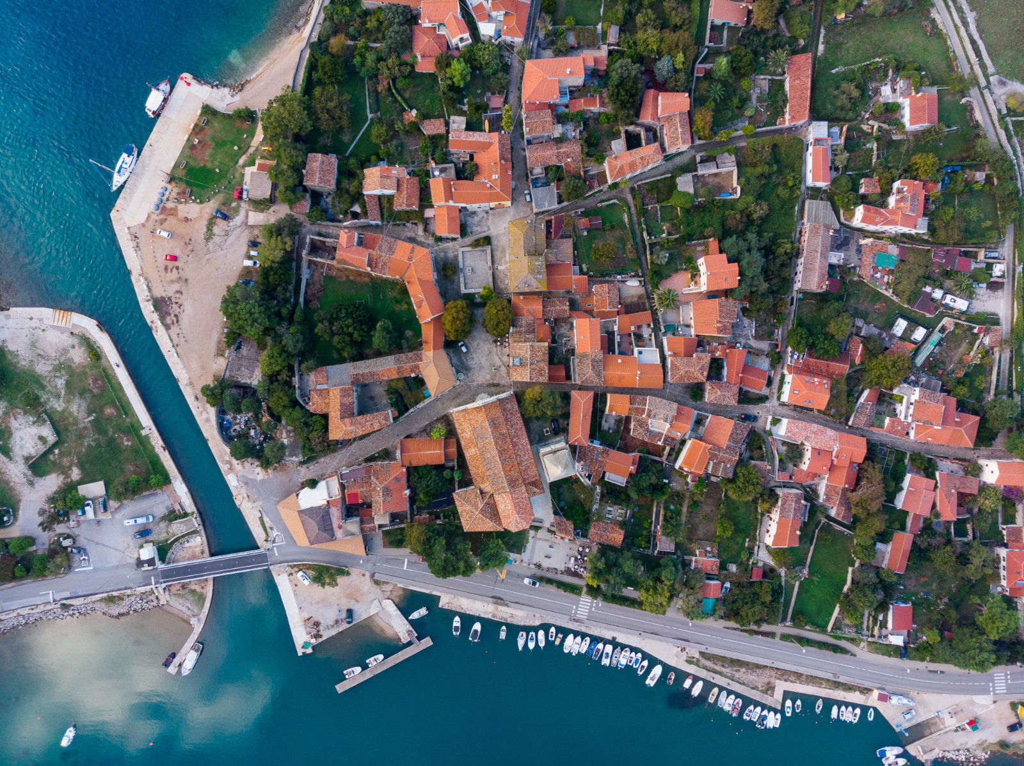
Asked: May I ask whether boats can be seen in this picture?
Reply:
Yes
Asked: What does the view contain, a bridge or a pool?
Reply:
bridge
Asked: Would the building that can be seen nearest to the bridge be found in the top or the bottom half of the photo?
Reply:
bottom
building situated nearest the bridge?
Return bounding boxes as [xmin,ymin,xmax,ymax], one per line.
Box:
[137,545,161,568]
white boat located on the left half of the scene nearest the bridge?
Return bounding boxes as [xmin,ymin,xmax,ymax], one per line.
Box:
[184,642,203,675]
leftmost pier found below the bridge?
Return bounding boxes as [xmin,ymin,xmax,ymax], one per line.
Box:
[167,578,214,675]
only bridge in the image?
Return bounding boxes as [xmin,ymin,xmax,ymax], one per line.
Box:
[157,549,272,585]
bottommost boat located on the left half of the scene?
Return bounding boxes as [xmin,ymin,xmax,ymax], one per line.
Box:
[62,723,78,746]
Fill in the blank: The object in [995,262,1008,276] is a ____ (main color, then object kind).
white vehicle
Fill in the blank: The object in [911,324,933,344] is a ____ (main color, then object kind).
white camper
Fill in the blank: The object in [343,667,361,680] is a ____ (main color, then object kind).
white boat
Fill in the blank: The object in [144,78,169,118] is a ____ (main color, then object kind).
white boat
